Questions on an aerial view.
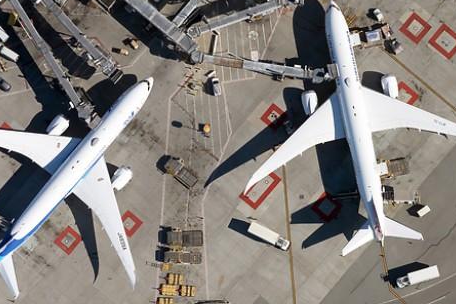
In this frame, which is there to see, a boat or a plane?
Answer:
plane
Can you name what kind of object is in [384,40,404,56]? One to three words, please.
work vehicle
